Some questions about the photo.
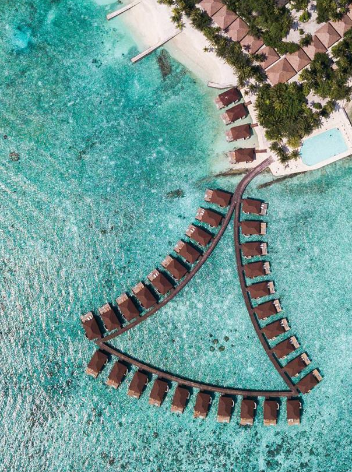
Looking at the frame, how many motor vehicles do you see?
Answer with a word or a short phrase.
0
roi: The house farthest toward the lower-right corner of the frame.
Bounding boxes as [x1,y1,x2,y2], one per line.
[286,398,303,425]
